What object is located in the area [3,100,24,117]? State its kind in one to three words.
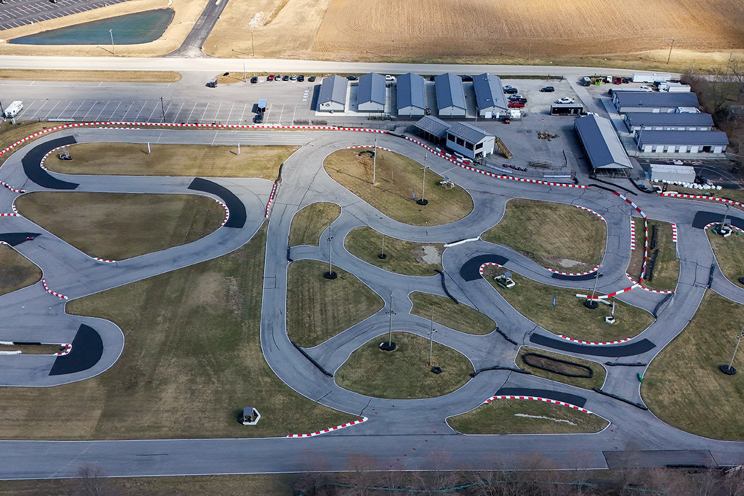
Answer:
camper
